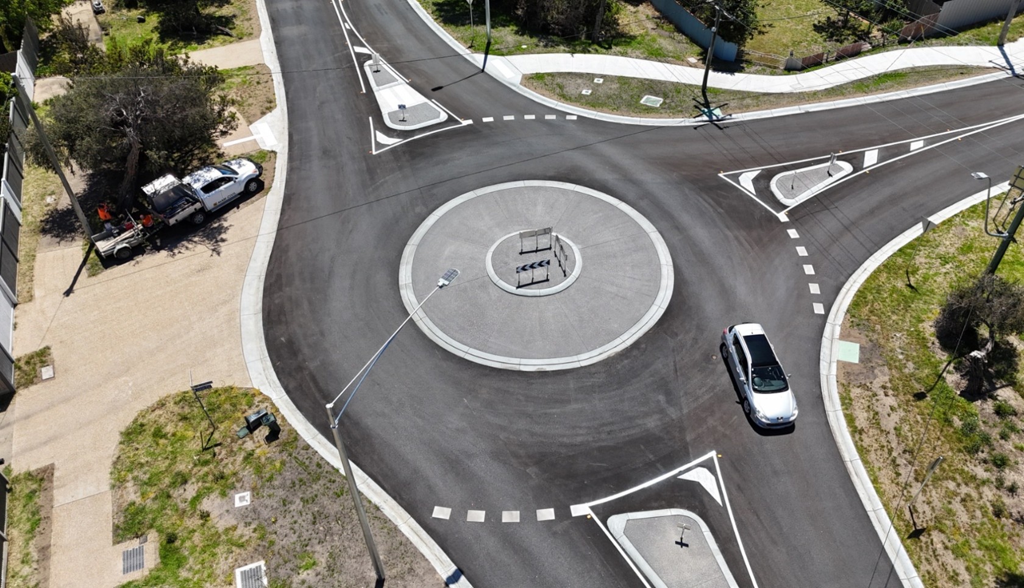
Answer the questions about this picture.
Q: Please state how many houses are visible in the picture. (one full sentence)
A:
I count no houses.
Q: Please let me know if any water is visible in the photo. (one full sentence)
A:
No, the picture contains no water.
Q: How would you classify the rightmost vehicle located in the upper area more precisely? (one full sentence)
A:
From above, the rightmost vehicle located in the upper area can be identified as a truck.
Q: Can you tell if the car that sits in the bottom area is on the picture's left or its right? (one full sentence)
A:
The car that sits in the bottom area appears in the right half of the scene.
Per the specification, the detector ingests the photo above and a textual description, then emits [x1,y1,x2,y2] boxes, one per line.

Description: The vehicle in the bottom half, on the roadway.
[720,326,800,434]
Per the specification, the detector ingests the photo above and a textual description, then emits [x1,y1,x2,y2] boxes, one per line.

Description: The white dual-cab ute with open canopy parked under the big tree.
[145,157,268,231]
